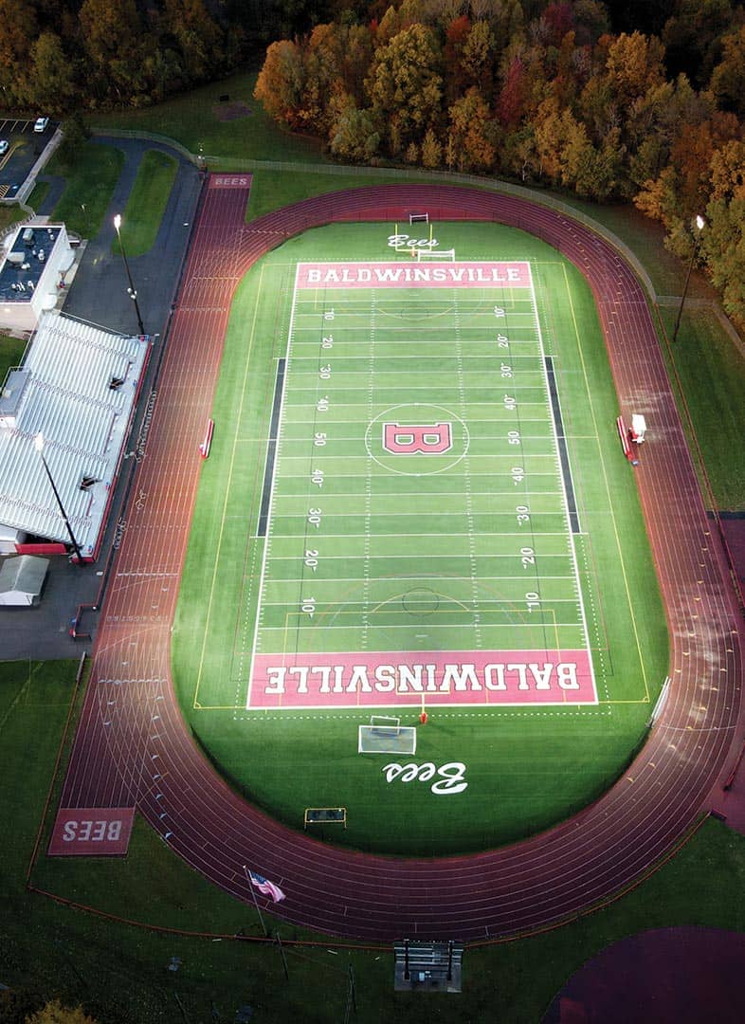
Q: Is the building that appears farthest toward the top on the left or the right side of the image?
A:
left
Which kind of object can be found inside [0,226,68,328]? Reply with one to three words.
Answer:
building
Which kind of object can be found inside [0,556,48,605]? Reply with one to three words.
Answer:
shed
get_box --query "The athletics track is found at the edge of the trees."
[43,174,745,944]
